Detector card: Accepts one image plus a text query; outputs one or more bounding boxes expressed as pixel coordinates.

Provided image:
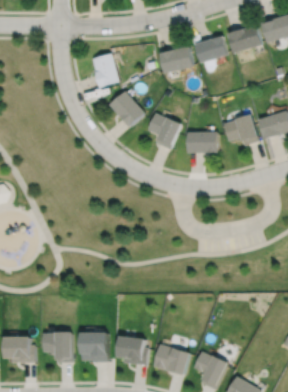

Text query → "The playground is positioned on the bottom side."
[0,206,44,272]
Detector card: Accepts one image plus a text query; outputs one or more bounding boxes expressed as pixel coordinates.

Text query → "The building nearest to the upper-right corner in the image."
[260,14,288,43]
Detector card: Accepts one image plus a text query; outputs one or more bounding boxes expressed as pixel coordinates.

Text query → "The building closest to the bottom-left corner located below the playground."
[0,337,36,364]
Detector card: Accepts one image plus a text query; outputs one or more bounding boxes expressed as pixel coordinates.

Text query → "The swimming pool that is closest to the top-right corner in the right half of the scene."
[186,75,202,91]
